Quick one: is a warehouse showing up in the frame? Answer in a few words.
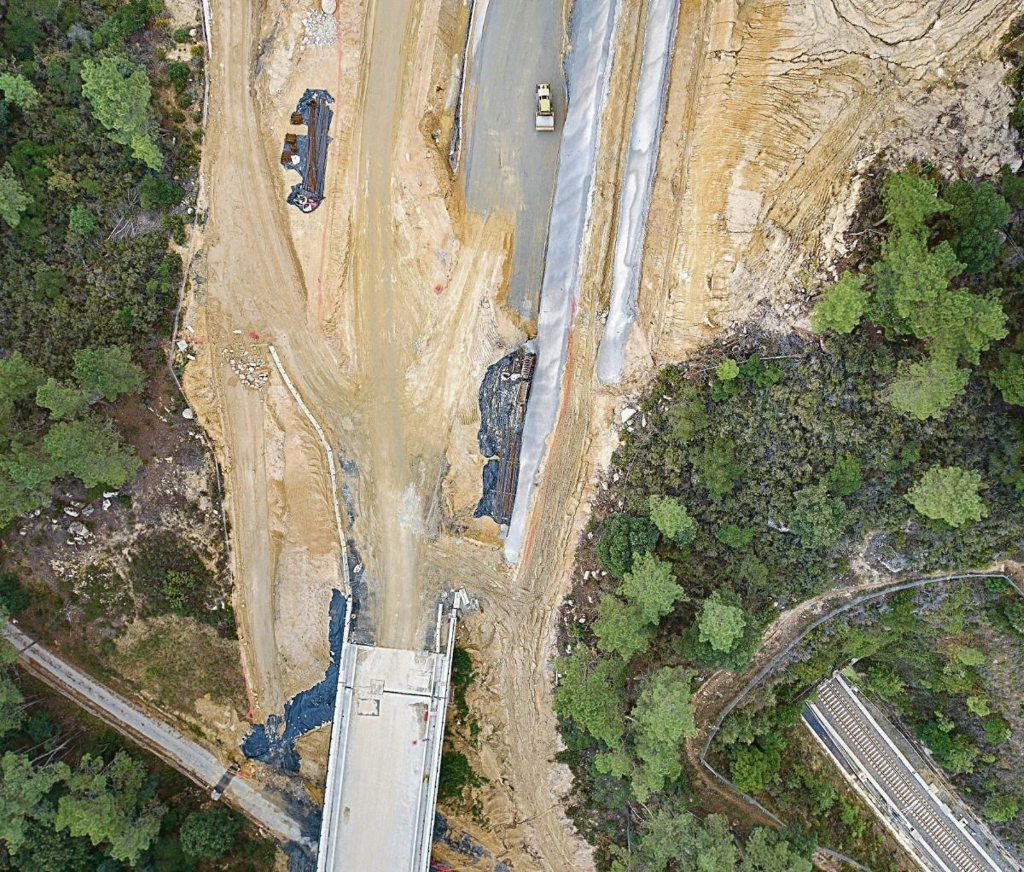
No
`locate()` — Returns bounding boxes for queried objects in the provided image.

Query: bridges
[318,640,452,872]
